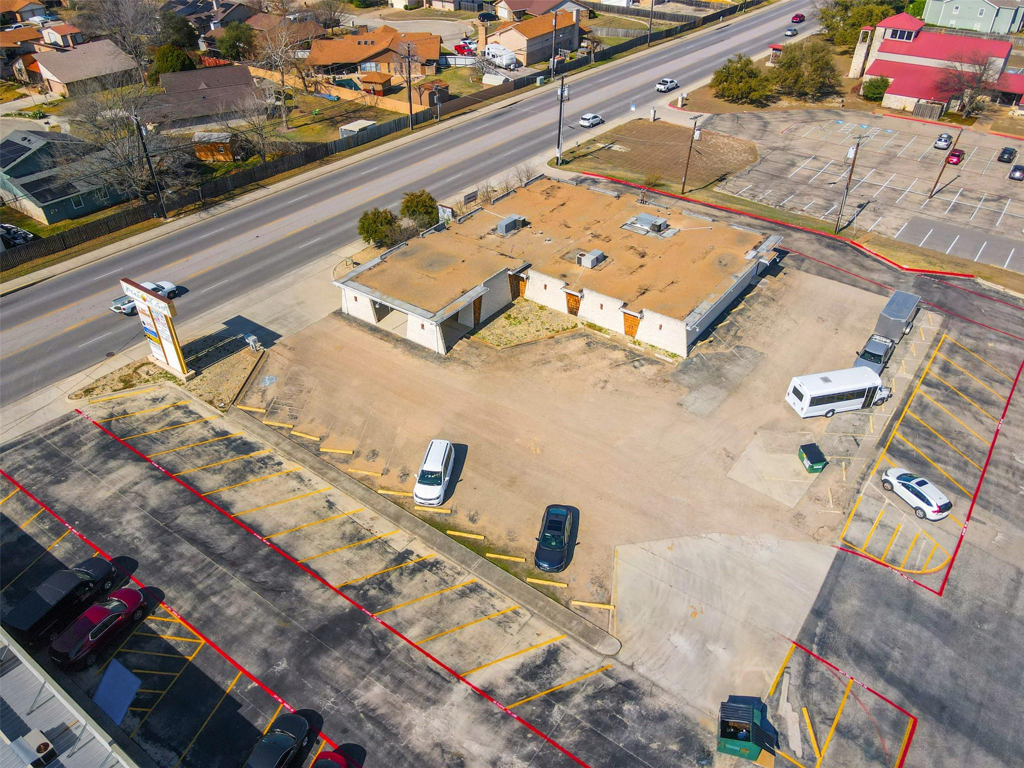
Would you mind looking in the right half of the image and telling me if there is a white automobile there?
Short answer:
Yes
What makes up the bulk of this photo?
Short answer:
paved ground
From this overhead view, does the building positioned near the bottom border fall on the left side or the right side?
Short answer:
left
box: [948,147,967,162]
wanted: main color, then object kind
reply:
red car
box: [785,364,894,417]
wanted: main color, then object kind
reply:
white vehicle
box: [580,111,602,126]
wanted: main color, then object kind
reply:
white car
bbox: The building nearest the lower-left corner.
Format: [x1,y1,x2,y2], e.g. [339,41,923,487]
[0,627,135,768]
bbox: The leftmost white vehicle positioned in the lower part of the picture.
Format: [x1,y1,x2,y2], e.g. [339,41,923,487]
[417,441,456,504]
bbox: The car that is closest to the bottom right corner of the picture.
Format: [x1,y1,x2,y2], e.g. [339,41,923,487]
[883,469,952,523]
